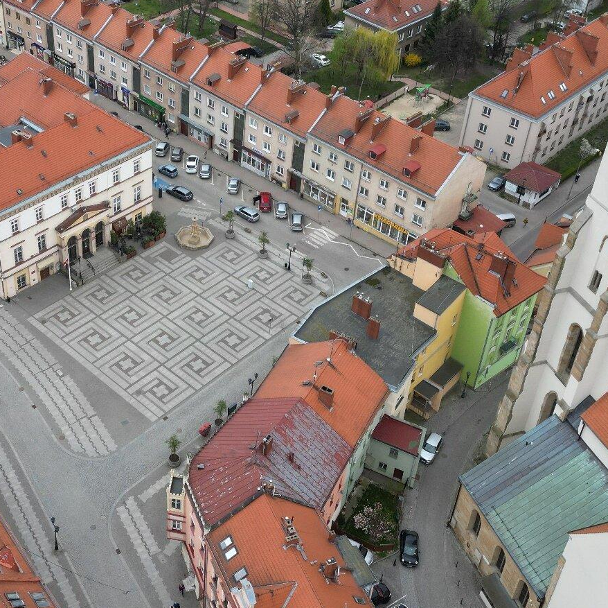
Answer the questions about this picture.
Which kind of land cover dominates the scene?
buildings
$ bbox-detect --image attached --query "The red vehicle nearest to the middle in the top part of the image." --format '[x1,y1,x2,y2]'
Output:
[260,195,272,211]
